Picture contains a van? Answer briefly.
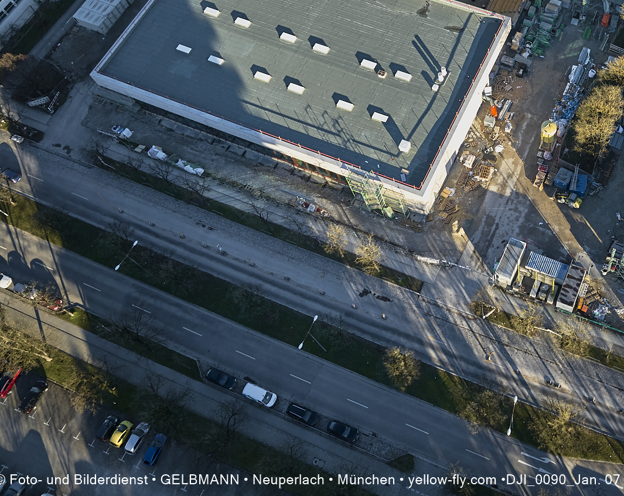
Yes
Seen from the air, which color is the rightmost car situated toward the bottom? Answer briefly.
black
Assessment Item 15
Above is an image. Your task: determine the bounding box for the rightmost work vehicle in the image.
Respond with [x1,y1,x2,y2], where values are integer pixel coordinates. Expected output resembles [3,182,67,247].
[544,190,583,214]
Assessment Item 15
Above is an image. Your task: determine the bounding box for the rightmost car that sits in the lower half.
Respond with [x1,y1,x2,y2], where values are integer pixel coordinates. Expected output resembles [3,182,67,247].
[324,419,363,444]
